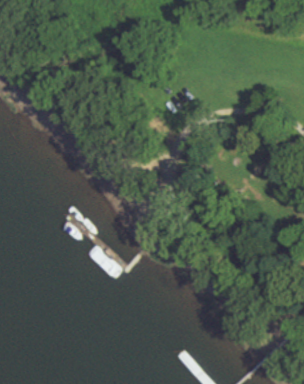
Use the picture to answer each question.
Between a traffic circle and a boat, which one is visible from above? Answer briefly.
boat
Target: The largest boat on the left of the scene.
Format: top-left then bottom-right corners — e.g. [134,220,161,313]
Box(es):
[90,246,122,278]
